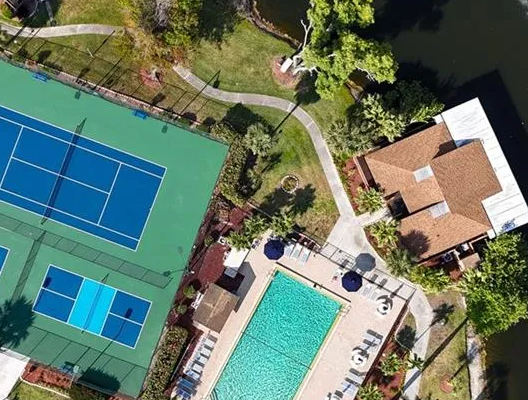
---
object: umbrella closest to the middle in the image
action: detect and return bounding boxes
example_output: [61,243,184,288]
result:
[265,239,285,259]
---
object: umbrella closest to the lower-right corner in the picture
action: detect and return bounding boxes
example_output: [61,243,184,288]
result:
[342,271,363,291]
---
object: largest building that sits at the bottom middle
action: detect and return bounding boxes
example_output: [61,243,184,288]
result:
[192,283,239,333]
